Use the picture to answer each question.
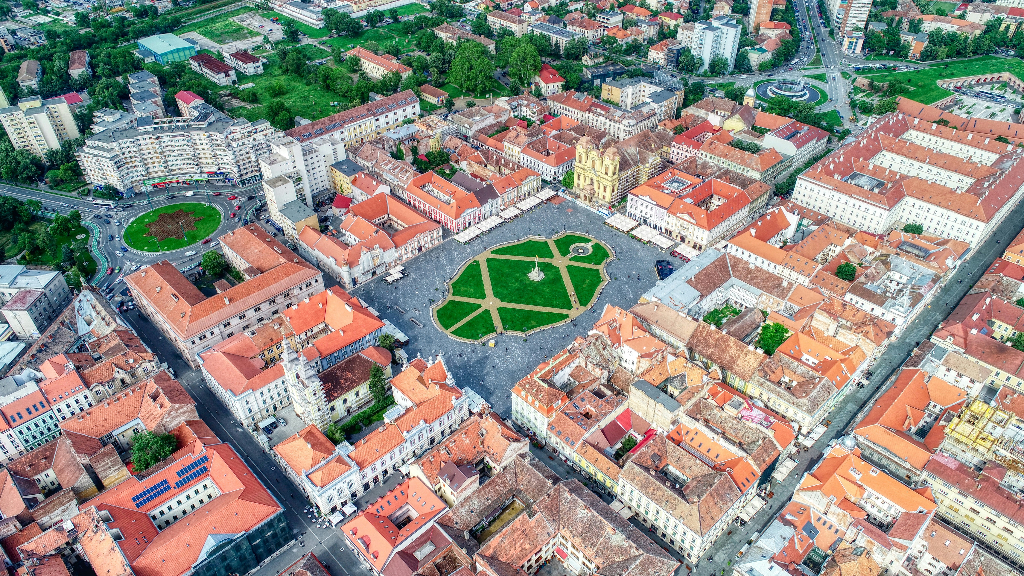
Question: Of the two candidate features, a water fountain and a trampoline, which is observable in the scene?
water fountain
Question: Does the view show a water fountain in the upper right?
Yes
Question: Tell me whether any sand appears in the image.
No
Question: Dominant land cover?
buildings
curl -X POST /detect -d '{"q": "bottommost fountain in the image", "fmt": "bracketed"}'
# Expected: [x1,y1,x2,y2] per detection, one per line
[569,242,593,256]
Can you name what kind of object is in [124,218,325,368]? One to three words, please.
building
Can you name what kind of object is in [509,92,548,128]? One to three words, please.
house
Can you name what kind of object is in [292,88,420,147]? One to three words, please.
building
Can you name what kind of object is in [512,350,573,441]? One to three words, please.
house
